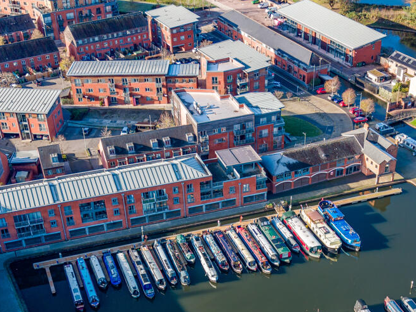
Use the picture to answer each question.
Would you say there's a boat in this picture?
Yes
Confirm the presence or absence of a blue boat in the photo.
Yes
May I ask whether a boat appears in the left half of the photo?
Yes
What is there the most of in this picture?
buildings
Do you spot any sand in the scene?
No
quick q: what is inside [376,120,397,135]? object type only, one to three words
boat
